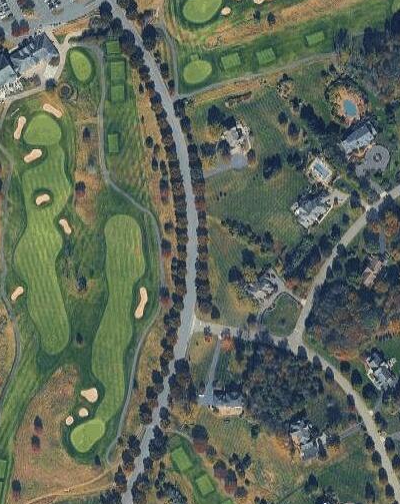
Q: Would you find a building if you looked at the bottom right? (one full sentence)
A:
Yes, a building appears at the bottom right.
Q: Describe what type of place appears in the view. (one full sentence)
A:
The area seen from above is a golf course.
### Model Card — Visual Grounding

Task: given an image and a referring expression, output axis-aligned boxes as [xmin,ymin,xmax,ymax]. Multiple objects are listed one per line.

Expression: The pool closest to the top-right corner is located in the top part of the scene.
[335,87,366,124]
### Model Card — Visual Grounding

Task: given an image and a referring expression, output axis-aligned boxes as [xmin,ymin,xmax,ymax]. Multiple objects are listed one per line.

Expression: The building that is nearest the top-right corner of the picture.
[340,121,380,157]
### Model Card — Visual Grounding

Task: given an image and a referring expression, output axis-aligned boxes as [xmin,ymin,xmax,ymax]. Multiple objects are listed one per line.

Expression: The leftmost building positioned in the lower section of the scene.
[213,387,244,410]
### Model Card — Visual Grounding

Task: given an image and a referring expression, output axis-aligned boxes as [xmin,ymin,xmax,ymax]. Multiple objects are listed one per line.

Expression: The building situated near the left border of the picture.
[0,27,59,87]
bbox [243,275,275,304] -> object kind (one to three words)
house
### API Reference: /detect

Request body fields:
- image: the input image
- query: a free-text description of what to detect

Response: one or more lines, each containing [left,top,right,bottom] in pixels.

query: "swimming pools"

[335,87,366,124]
[307,156,332,185]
